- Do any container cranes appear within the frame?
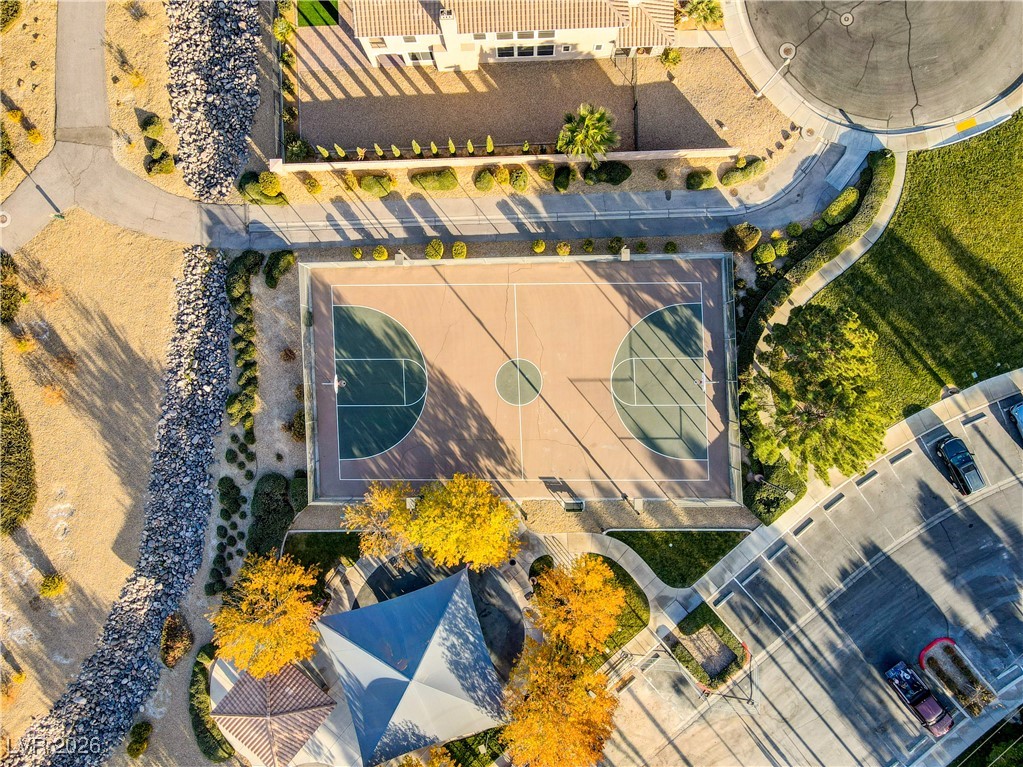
No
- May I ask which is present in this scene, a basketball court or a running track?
basketball court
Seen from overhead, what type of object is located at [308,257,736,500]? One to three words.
basketball court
